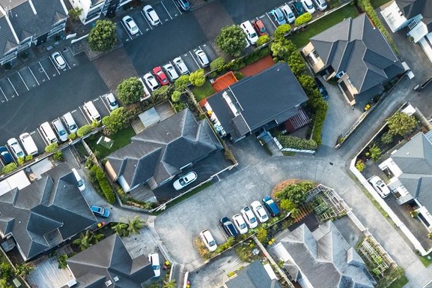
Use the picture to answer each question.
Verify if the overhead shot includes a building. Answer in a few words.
Yes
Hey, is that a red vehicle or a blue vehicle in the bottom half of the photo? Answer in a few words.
blue vehicle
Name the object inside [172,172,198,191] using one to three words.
car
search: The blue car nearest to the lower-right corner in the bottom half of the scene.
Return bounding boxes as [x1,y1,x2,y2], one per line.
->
[262,194,280,218]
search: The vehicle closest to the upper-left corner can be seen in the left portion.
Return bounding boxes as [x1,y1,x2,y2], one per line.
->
[49,49,68,74]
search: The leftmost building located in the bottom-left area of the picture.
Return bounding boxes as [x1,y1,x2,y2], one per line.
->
[0,171,97,260]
